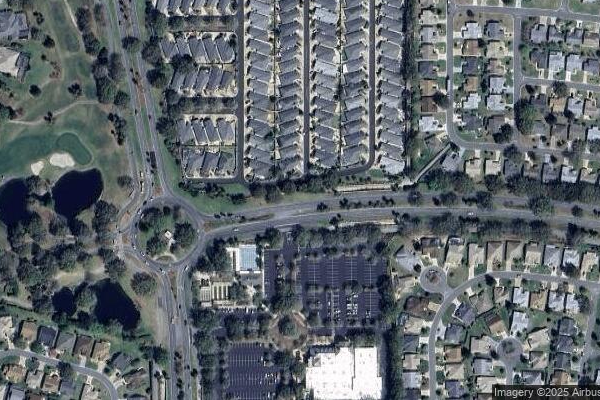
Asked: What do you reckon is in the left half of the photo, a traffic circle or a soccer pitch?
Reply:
traffic circle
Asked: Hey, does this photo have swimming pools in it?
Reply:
Yes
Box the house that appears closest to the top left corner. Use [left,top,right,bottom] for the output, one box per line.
[0,9,26,42]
